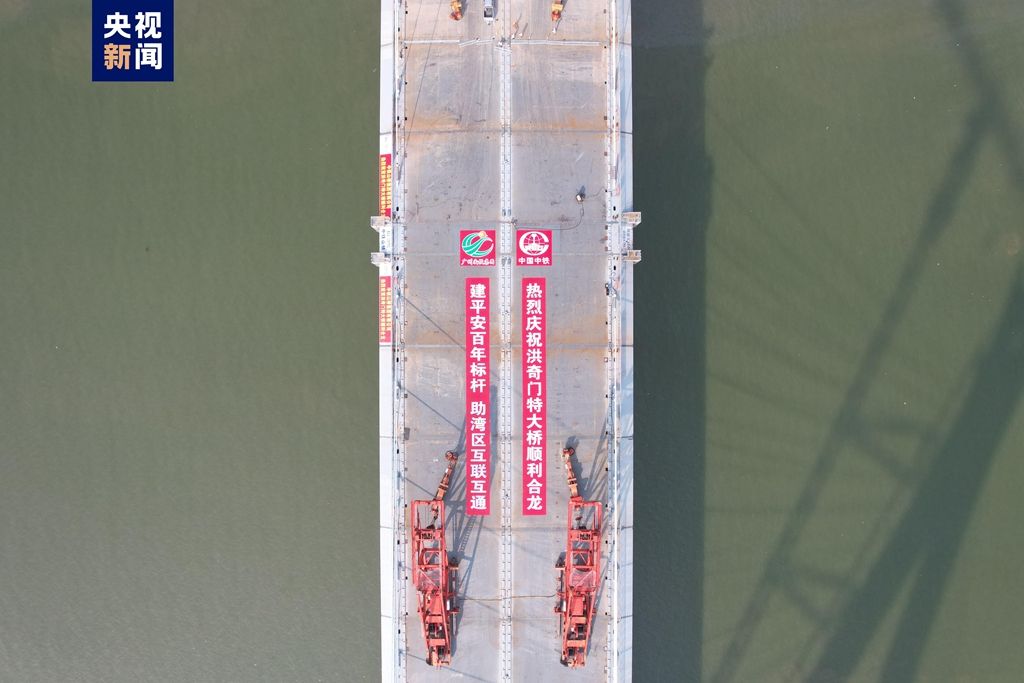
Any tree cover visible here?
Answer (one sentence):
No, there is no tree cover in the image.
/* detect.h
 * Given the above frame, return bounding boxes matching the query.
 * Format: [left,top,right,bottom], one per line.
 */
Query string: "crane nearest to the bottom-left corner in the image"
[410,450,461,668]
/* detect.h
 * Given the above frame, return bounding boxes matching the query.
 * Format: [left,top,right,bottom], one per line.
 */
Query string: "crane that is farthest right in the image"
[552,449,603,668]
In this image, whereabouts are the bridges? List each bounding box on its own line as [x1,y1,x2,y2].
[381,0,633,683]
